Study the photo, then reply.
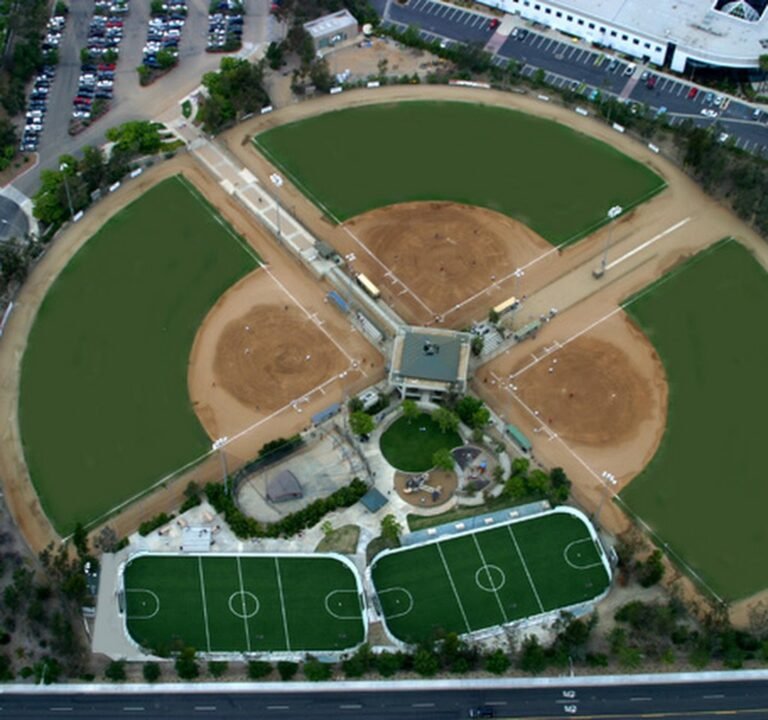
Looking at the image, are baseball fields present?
Yes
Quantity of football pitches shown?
2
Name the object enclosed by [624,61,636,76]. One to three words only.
vehicle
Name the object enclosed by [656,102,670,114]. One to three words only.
vehicle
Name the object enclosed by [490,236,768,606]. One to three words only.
baseball field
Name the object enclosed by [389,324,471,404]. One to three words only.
building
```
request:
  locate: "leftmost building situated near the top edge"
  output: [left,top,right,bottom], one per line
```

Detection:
[304,8,358,52]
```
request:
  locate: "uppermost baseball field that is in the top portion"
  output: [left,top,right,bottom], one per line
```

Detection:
[251,99,670,325]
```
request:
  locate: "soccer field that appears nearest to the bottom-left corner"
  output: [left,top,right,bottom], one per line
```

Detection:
[118,550,371,658]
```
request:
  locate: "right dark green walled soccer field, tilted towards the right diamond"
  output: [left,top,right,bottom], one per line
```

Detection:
[365,502,616,651]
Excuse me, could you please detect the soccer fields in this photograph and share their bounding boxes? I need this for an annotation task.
[365,502,616,651]
[118,550,371,658]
